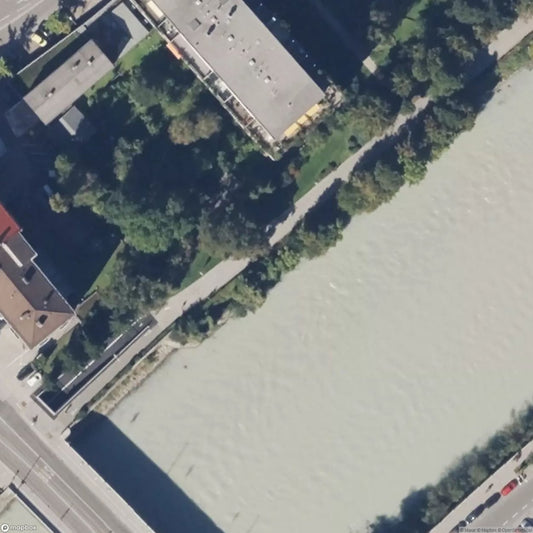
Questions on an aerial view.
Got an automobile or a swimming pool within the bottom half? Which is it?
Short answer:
automobile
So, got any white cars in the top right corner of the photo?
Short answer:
No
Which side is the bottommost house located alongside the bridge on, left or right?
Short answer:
left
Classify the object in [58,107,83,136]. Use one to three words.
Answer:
shed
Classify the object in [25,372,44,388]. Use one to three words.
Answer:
car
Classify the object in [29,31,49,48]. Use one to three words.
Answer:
car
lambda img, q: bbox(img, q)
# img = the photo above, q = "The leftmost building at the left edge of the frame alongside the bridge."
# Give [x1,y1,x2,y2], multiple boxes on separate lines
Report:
[0,232,75,350]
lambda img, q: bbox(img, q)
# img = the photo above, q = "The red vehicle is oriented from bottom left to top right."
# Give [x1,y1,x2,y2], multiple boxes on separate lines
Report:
[500,477,522,497]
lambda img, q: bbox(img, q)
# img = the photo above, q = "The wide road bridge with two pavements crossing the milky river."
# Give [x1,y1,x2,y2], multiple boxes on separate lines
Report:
[0,397,156,533]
